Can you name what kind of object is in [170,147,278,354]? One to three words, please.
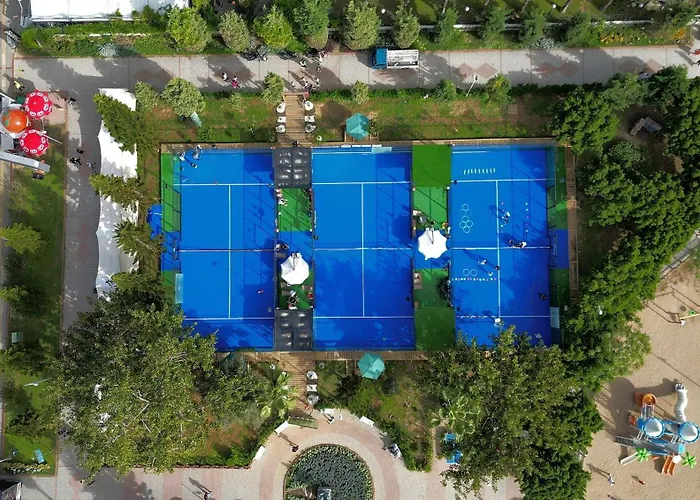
sports court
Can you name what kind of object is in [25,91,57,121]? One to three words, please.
umbrella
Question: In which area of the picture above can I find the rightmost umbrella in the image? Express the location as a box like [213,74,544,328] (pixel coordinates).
[416,228,448,260]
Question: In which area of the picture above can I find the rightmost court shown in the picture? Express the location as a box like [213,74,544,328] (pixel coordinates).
[448,143,562,352]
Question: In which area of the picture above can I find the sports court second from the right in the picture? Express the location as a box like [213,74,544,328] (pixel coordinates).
[310,145,416,354]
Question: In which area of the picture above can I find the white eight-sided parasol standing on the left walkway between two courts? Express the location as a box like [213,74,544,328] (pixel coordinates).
[282,254,308,281]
